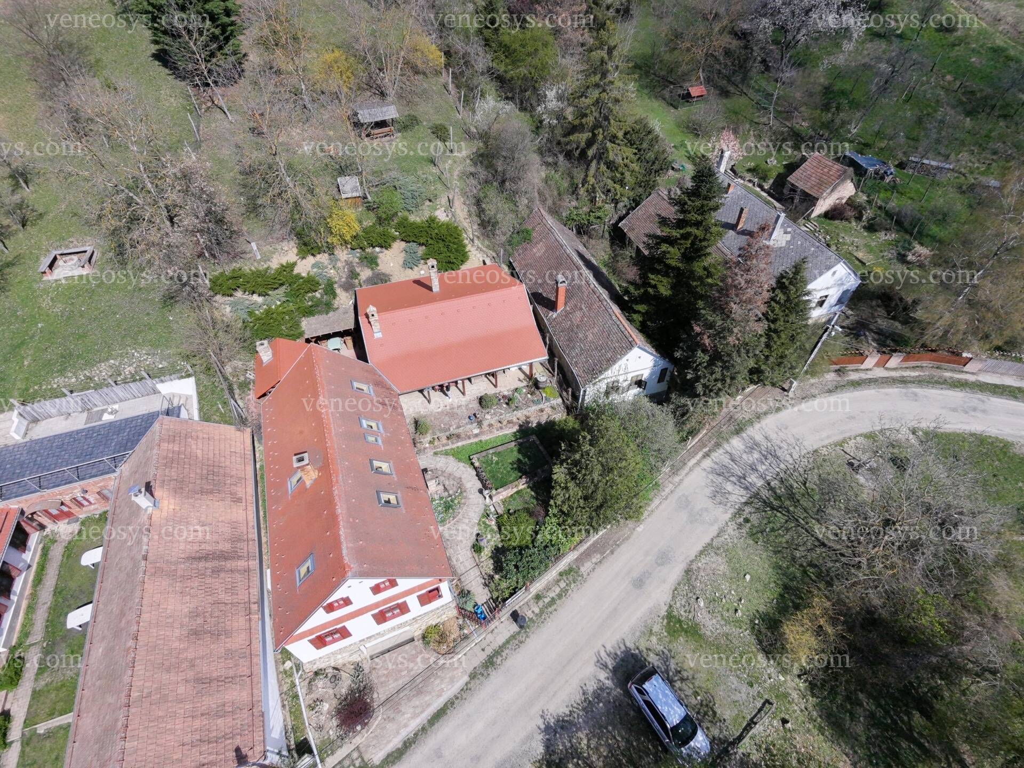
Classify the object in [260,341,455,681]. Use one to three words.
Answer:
house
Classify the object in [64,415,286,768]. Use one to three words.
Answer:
house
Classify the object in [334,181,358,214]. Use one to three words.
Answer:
shed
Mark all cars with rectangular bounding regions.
[628,662,720,768]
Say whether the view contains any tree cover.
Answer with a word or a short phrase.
Yes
